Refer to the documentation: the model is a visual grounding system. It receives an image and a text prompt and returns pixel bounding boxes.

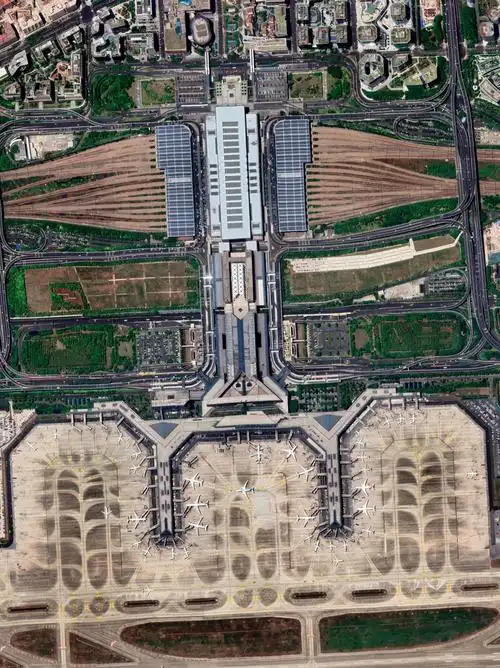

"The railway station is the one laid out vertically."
[206,105,263,239]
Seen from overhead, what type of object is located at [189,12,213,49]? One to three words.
building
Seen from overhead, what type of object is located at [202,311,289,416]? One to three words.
building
